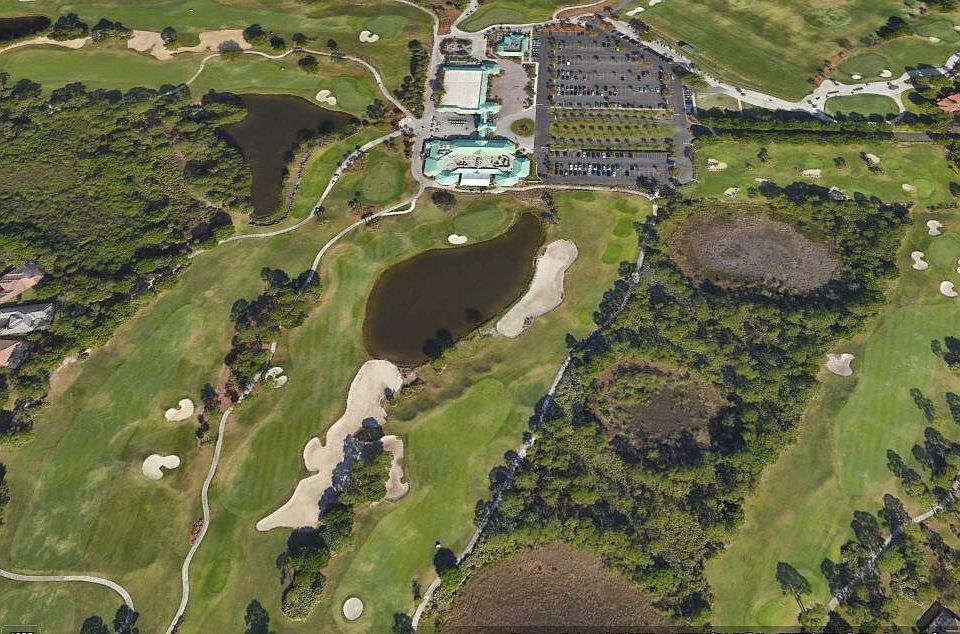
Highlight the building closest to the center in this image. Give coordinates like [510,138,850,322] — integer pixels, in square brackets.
[424,140,530,192]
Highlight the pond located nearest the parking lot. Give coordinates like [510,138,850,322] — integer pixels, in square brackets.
[364,215,544,366]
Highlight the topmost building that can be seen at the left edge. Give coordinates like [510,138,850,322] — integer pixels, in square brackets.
[0,263,44,308]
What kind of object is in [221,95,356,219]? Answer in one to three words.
pond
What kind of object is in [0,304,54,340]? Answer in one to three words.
house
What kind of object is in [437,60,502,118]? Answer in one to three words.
barn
